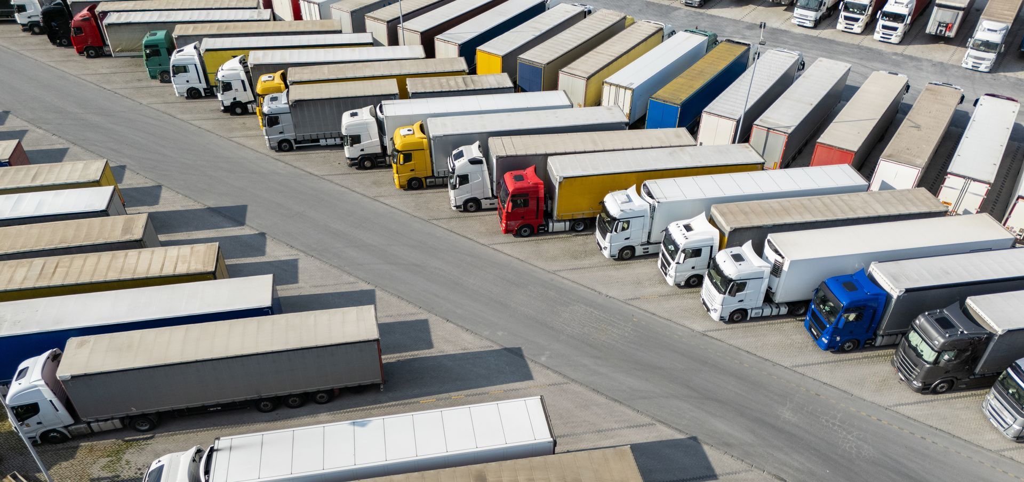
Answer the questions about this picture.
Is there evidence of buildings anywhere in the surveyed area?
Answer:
No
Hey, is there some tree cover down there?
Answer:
No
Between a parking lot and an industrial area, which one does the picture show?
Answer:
parking lot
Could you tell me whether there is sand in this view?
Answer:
No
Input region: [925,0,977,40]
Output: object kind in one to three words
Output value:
trailer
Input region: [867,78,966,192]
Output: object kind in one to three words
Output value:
truck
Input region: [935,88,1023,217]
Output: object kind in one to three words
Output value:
truck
